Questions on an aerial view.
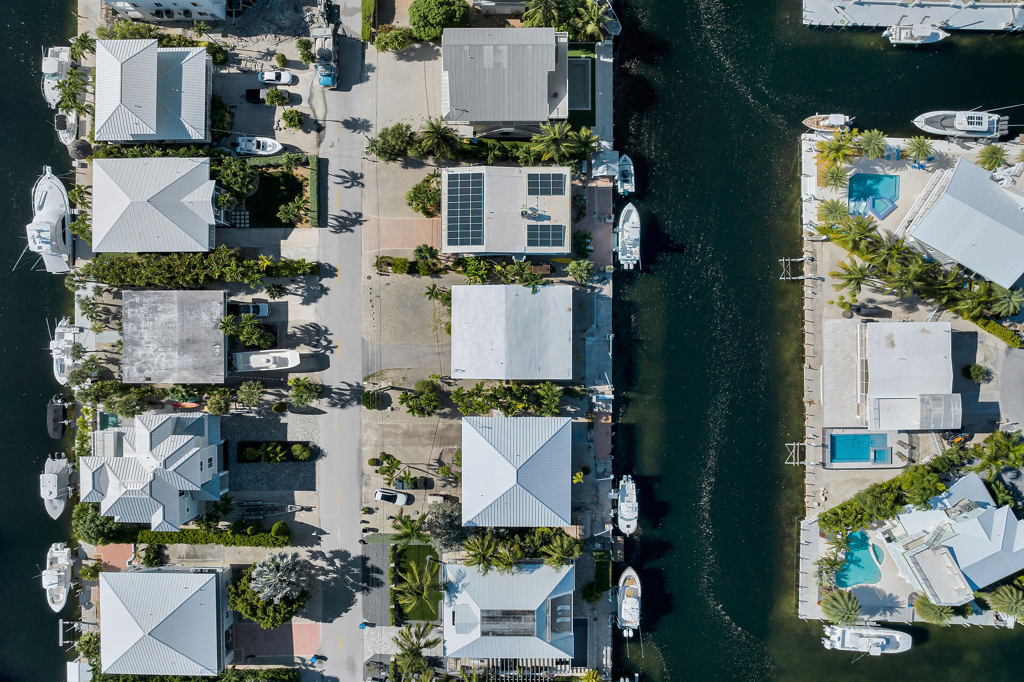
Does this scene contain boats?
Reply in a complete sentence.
Yes, a boat is visible in the scene.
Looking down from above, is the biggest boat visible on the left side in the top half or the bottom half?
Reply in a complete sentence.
The biggest boat visible on the left side sits in the top half of the picture.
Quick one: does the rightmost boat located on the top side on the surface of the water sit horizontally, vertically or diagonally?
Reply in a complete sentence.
The rightmost boat located on the top side on the surface of the water runs horizontally in the image.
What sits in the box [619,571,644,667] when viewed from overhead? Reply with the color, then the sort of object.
white boat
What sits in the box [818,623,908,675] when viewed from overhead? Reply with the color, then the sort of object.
white boat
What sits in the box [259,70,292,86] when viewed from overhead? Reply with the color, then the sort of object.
white car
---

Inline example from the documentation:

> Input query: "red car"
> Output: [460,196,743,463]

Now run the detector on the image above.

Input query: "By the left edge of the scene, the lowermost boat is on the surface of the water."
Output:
[28,544,72,611]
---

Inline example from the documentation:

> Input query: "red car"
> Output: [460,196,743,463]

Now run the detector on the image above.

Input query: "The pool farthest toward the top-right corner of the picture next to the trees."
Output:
[847,172,901,219]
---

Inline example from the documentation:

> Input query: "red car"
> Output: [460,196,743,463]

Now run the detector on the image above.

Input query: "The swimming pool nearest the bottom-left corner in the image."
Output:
[98,411,119,431]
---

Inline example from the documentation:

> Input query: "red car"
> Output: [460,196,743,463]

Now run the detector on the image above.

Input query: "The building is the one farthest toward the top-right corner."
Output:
[895,157,1024,289]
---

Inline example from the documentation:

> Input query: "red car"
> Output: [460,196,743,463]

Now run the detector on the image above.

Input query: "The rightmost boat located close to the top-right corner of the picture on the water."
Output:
[916,101,1023,138]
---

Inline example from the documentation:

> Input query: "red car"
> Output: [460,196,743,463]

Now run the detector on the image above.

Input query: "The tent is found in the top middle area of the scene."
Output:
[590,145,618,175]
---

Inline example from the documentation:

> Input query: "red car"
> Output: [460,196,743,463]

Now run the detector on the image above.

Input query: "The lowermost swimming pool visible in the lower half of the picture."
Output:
[571,616,590,670]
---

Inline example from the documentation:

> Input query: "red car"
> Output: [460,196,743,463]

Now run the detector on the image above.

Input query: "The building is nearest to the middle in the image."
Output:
[451,284,573,379]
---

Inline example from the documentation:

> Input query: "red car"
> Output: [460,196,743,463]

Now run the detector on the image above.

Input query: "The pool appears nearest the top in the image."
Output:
[567,57,592,111]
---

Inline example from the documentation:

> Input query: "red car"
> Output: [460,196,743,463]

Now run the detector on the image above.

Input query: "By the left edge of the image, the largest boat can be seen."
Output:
[1,154,83,272]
